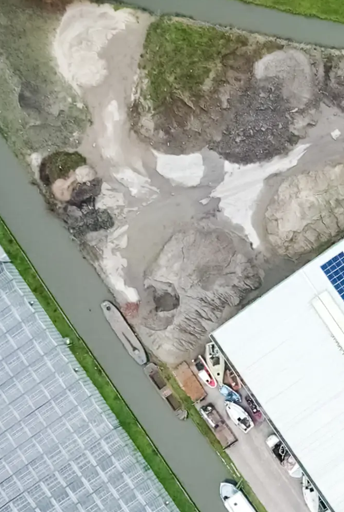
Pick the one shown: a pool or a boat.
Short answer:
boat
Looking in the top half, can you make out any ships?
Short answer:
No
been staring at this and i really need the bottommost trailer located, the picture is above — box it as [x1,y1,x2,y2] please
[200,402,239,447]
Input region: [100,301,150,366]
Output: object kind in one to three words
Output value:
ship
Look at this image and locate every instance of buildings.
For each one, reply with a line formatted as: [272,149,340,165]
[206,239,344,512]
[0,261,182,512]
